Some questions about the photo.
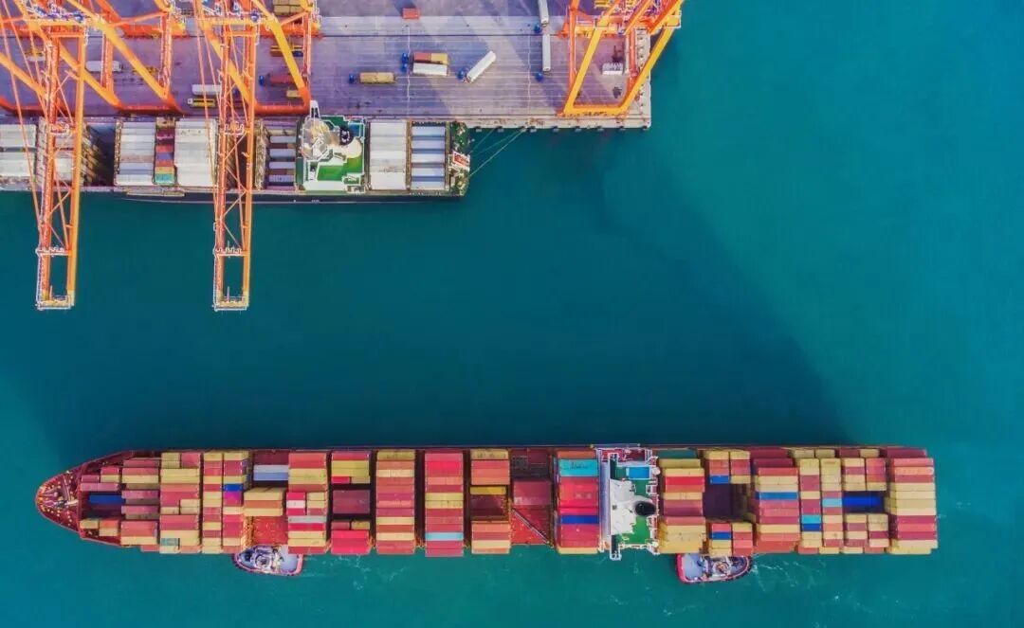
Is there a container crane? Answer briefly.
Yes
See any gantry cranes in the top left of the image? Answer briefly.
Yes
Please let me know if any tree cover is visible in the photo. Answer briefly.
No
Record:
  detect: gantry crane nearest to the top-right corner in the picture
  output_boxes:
[556,0,685,114]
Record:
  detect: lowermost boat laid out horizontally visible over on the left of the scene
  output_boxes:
[230,544,305,578]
